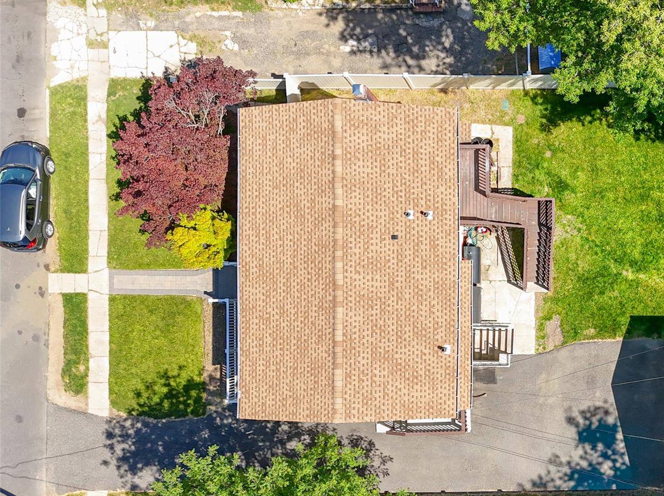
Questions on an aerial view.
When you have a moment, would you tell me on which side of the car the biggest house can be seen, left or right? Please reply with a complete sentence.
Looking at the picture, you'll find the biggest house to the right of the car.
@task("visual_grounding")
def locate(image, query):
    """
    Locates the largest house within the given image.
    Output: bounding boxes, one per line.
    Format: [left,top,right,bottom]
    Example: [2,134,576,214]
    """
[234,84,476,424]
